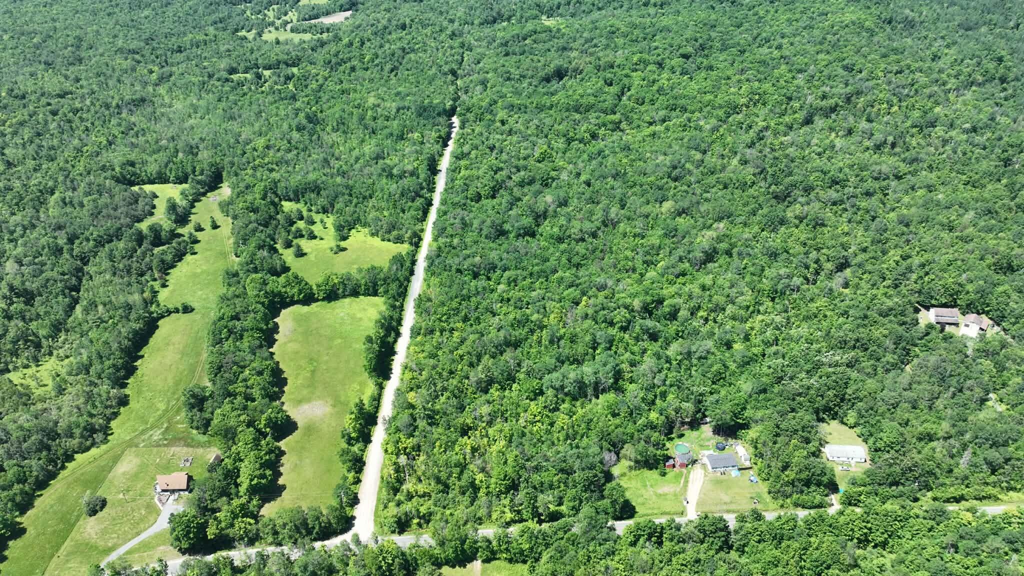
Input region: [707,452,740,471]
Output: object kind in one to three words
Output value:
house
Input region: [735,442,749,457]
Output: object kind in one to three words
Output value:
vehicle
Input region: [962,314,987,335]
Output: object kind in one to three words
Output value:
building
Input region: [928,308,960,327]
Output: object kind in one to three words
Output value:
house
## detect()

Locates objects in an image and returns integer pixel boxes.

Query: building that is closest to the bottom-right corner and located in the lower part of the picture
[824,444,867,463]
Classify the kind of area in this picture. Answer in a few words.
forest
